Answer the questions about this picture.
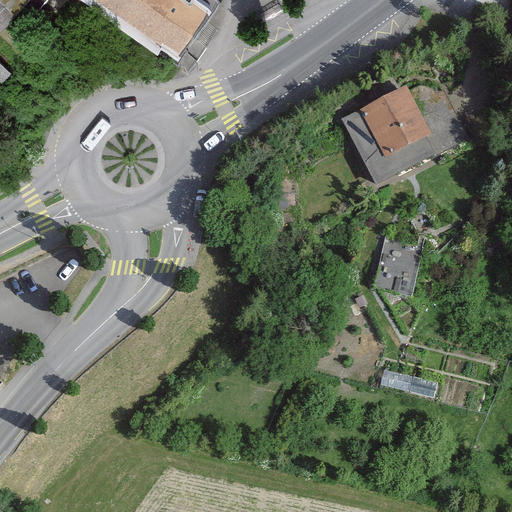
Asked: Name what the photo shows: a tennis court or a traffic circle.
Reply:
traffic circle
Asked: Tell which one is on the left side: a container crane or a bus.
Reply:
bus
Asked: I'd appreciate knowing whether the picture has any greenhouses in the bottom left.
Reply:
No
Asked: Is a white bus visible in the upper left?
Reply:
Yes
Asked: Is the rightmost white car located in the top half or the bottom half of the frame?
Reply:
top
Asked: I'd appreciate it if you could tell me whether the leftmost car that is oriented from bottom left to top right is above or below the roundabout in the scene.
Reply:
below it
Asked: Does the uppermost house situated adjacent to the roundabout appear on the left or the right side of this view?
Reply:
left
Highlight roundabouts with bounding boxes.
[55,84,205,234]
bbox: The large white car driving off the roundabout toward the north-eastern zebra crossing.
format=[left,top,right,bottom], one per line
[202,132,226,152]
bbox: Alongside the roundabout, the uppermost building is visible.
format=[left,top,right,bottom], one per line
[84,0,213,61]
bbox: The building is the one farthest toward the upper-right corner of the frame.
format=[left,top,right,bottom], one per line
[342,85,436,182]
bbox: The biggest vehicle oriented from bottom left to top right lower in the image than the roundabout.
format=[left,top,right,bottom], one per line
[58,258,78,282]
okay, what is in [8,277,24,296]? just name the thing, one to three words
car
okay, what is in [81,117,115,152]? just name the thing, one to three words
bus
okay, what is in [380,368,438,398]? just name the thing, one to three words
greenhouse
